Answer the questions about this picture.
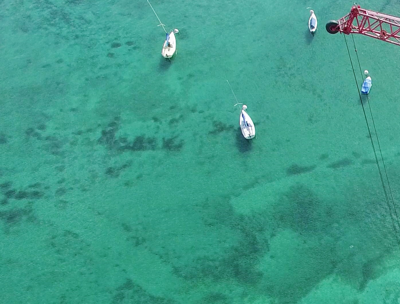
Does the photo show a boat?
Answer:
Yes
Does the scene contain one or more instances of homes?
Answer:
No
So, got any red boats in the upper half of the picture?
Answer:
No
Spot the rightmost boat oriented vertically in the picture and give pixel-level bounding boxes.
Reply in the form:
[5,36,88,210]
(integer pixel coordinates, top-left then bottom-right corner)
[360,77,372,98]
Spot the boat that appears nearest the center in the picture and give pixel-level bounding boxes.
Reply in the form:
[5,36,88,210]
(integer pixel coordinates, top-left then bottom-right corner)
[228,85,254,145]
